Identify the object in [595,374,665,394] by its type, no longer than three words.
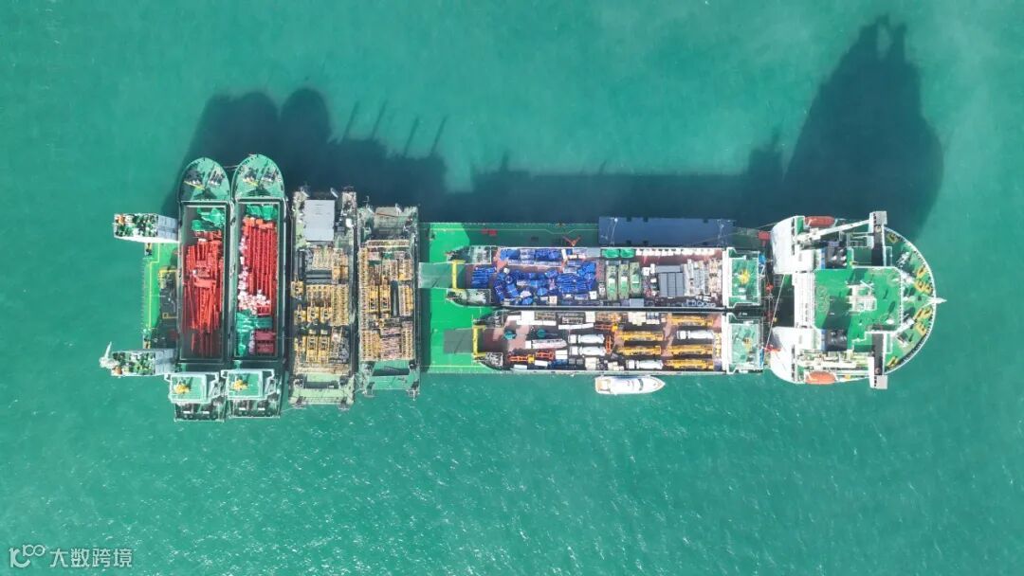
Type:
boat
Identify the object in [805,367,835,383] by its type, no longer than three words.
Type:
boat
